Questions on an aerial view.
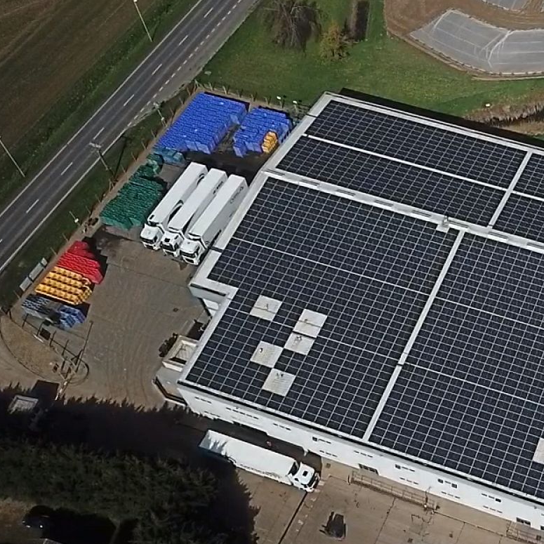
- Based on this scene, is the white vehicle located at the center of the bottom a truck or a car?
truck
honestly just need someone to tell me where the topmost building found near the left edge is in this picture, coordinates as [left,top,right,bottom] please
[5,392,50,424]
